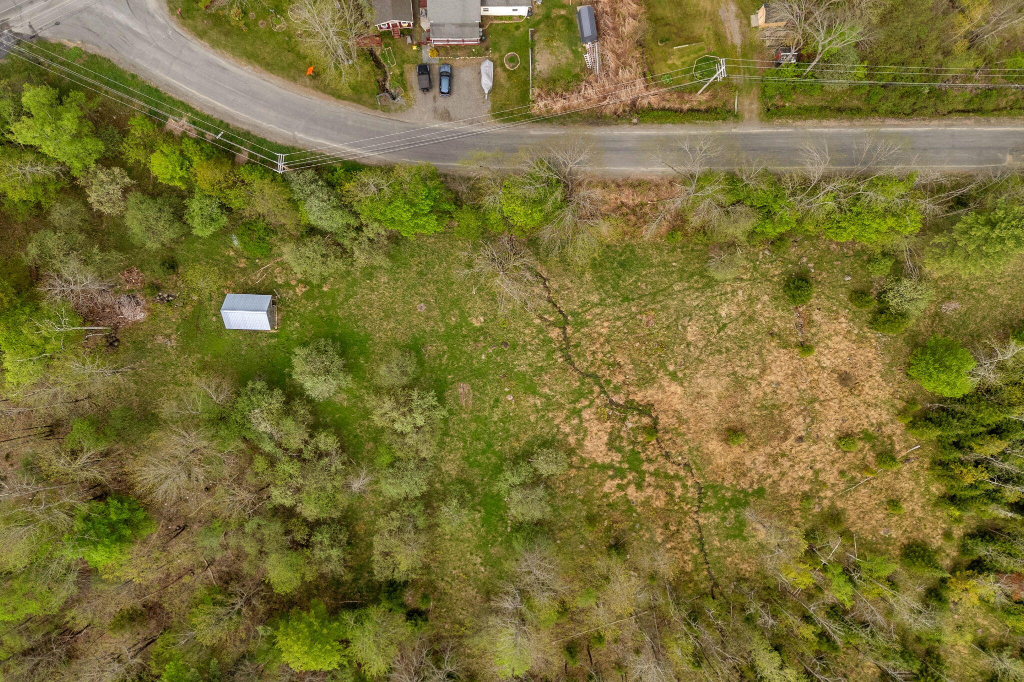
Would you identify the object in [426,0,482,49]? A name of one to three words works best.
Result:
house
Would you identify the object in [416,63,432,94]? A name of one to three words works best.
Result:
car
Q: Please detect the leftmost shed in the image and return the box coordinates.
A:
[222,294,277,330]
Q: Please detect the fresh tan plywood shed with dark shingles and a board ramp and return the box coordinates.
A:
[751,0,799,28]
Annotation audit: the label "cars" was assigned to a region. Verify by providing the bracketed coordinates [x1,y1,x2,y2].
[416,63,432,94]
[437,63,452,96]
